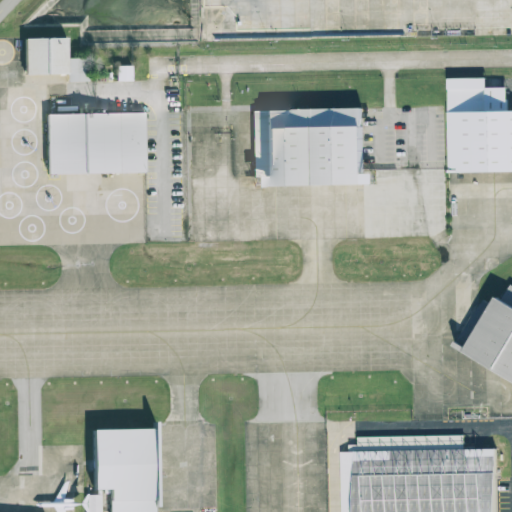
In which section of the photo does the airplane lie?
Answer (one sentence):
Look in the bottom left portion of the view to spot the airplane.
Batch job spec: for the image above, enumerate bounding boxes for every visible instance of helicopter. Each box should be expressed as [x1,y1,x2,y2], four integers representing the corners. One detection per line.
[43,190,56,207]
[18,134,35,150]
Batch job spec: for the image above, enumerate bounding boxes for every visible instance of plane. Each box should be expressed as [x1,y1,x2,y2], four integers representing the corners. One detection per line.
[38,482,88,512]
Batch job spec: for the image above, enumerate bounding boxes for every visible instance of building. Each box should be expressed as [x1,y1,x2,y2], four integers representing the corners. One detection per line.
[358,436,464,450]
[254,108,370,186]
[26,37,70,74]
[447,78,512,173]
[342,450,501,512]
[48,113,147,175]
[94,423,161,512]
[71,58,85,82]
[118,66,134,81]
[453,287,512,381]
